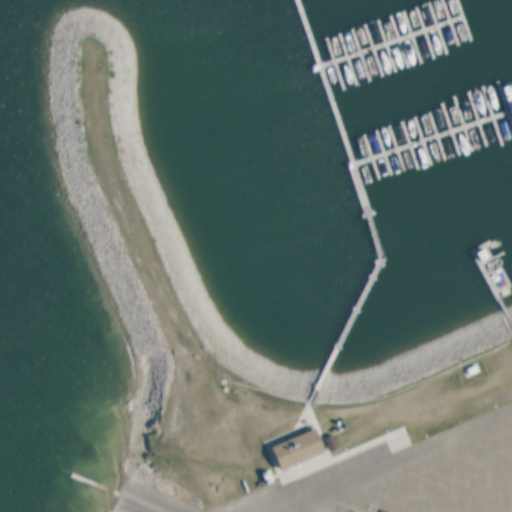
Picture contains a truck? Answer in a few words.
No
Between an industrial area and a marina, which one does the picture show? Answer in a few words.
marina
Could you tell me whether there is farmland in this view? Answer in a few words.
No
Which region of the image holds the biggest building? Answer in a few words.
bottom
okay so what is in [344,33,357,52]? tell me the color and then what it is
white boat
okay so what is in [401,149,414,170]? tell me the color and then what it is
gray boat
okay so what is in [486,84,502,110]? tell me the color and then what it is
white boat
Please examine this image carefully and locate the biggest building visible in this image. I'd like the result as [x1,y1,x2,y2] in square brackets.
[272,431,325,471]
